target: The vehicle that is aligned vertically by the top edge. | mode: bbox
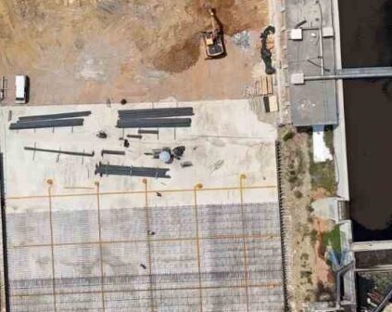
[203,7,227,64]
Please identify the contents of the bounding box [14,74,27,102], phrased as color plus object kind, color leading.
white vehicle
